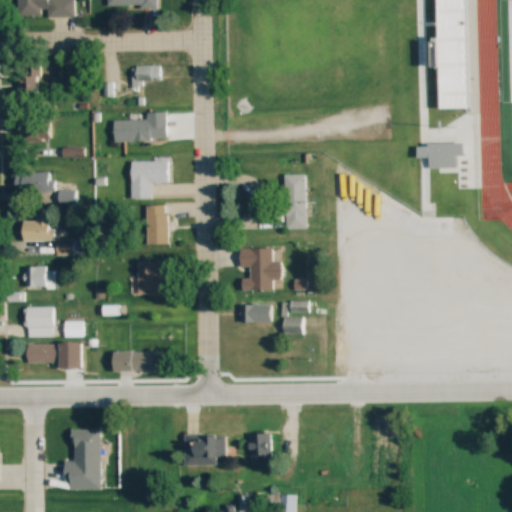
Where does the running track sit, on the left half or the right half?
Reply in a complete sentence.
The running track is on the right side of the image.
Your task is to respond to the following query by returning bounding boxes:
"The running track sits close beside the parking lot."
[478,0,512,231]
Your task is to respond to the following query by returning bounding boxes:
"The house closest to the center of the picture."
[240,248,284,292]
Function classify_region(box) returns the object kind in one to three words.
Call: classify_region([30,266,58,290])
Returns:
house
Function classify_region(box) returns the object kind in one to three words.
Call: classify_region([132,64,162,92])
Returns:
house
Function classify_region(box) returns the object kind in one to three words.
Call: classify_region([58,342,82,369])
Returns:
building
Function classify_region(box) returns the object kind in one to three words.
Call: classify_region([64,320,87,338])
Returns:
building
